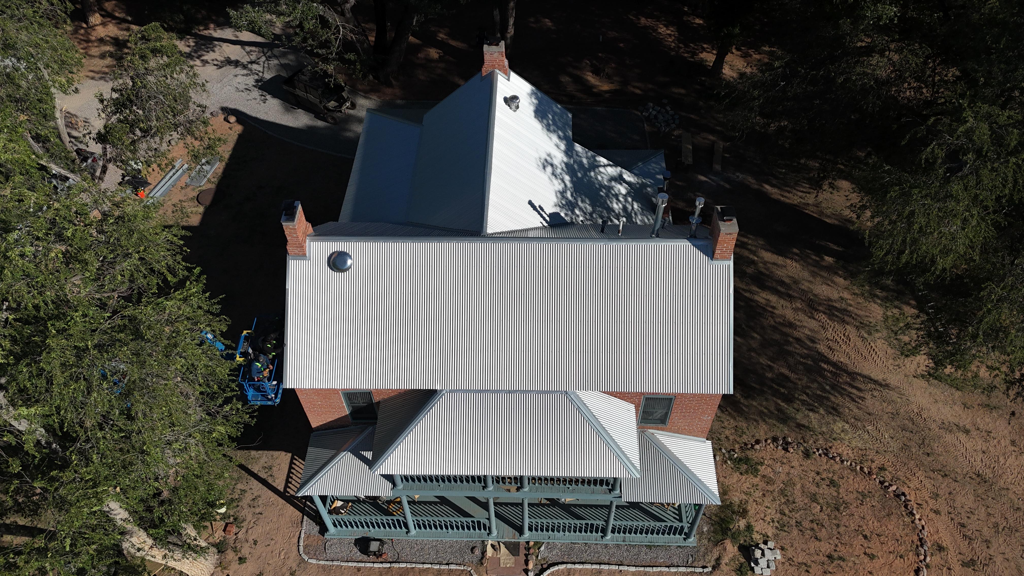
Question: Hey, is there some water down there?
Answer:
No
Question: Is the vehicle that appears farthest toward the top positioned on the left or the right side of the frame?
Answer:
left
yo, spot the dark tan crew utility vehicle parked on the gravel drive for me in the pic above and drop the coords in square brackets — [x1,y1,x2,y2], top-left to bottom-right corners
[283,65,353,127]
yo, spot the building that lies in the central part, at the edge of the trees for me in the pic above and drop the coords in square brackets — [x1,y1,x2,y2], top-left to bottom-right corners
[277,39,740,550]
